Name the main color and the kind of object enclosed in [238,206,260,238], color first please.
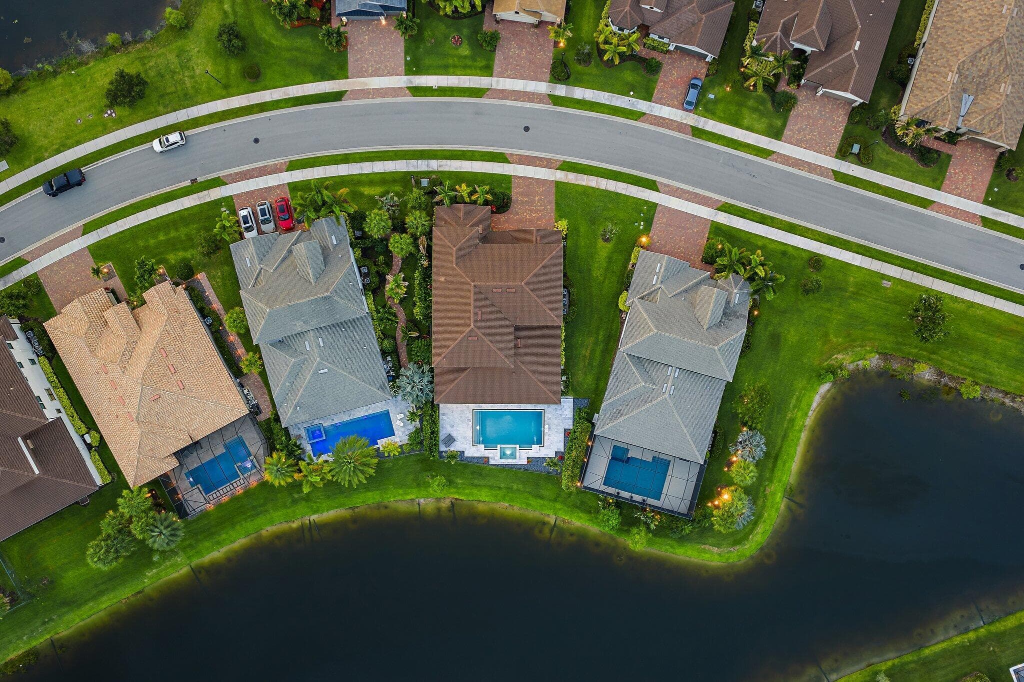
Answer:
white car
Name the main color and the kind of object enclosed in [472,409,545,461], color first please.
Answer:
blue swimming pool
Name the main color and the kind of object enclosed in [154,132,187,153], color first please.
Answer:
white car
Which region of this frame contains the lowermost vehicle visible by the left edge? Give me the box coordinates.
[45,169,87,195]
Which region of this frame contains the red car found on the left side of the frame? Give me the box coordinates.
[275,197,295,230]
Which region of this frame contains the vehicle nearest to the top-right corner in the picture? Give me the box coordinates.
[682,77,701,111]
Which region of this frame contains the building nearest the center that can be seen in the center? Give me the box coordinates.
[432,204,563,404]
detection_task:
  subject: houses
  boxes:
[229,215,392,428]
[432,204,563,404]
[895,0,1024,154]
[0,315,106,542]
[608,0,735,65]
[493,0,565,28]
[43,281,252,489]
[750,0,900,109]
[335,0,407,23]
[594,250,753,464]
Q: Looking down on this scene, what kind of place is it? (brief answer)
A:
residential area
